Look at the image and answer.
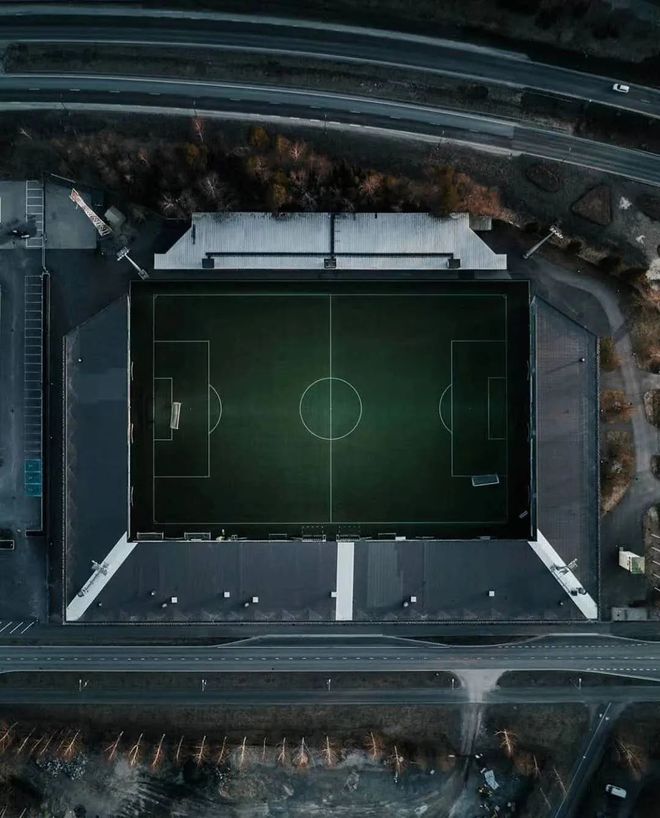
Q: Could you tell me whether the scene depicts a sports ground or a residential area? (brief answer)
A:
sports ground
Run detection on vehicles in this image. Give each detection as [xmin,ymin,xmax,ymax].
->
[613,84,629,93]
[606,784,626,798]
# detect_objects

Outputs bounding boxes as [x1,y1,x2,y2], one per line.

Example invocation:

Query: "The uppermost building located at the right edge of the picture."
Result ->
[619,551,645,574]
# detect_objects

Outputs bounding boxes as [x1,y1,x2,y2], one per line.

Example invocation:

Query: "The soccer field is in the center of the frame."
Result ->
[129,280,531,541]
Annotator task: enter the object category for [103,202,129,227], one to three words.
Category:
shed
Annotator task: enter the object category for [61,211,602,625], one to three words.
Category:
stadium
